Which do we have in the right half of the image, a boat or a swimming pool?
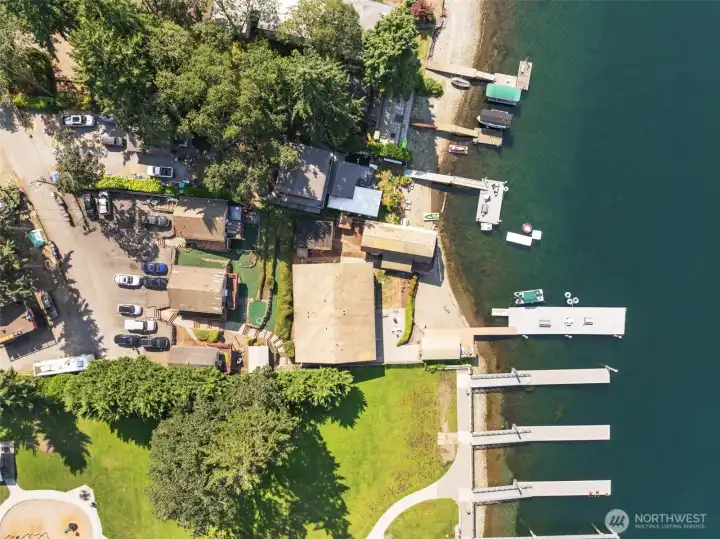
boat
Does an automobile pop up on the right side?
No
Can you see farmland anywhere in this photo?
No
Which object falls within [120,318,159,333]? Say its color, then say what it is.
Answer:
white vehicle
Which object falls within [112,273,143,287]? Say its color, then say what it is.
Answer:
white car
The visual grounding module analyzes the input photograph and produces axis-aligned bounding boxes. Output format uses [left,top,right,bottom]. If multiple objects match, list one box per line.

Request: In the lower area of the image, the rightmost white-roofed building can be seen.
[420,335,461,361]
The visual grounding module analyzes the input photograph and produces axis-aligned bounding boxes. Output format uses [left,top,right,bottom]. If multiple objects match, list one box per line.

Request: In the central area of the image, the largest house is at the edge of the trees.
[291,261,378,365]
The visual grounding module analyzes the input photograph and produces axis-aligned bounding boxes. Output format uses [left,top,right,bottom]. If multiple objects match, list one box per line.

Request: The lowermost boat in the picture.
[510,289,546,307]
